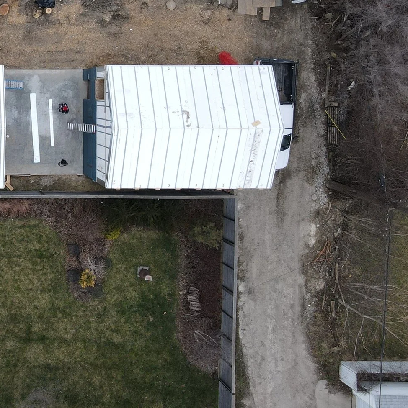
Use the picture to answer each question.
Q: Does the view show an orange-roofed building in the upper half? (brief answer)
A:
No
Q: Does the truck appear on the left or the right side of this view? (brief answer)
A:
right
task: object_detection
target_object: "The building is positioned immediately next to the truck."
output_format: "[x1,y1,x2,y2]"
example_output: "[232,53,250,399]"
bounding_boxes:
[83,65,281,190]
